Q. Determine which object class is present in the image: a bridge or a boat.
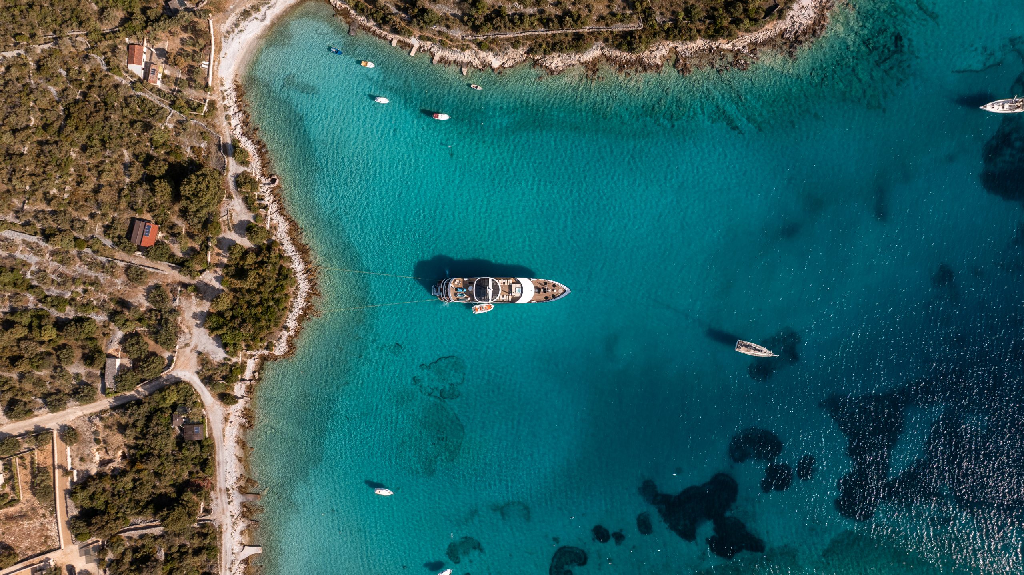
boat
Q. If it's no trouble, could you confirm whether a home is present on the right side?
No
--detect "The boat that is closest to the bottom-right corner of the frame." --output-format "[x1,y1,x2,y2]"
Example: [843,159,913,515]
[735,342,773,357]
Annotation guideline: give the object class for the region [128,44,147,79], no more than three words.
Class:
house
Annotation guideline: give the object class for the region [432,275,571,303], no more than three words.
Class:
boat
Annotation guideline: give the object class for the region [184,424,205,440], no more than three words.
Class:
house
